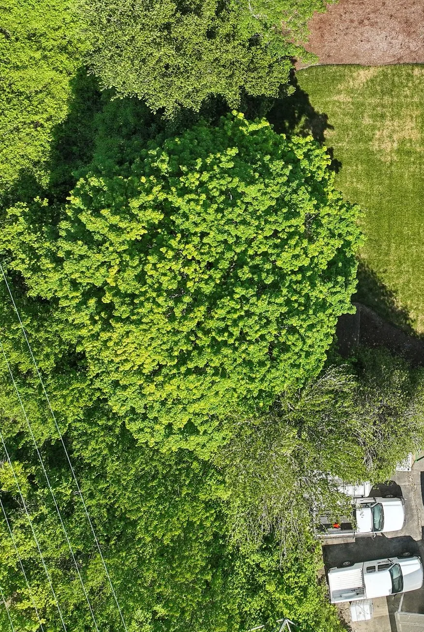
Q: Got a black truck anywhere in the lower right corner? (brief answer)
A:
No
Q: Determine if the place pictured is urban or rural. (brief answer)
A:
rural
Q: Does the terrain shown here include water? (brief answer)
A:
No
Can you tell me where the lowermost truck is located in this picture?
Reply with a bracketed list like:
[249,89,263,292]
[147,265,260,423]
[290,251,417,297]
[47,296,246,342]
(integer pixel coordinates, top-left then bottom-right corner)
[327,554,422,601]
